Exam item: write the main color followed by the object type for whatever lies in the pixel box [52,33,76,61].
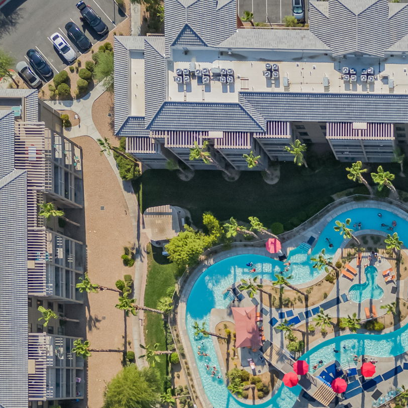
white car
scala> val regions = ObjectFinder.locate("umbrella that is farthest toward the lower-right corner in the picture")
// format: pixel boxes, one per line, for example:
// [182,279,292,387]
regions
[361,362,377,377]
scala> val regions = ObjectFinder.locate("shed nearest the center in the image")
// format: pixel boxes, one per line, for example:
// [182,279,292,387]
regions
[144,206,181,239]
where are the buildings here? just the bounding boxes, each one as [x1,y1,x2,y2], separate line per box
[113,0,408,172]
[144,206,181,239]
[0,87,82,408]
